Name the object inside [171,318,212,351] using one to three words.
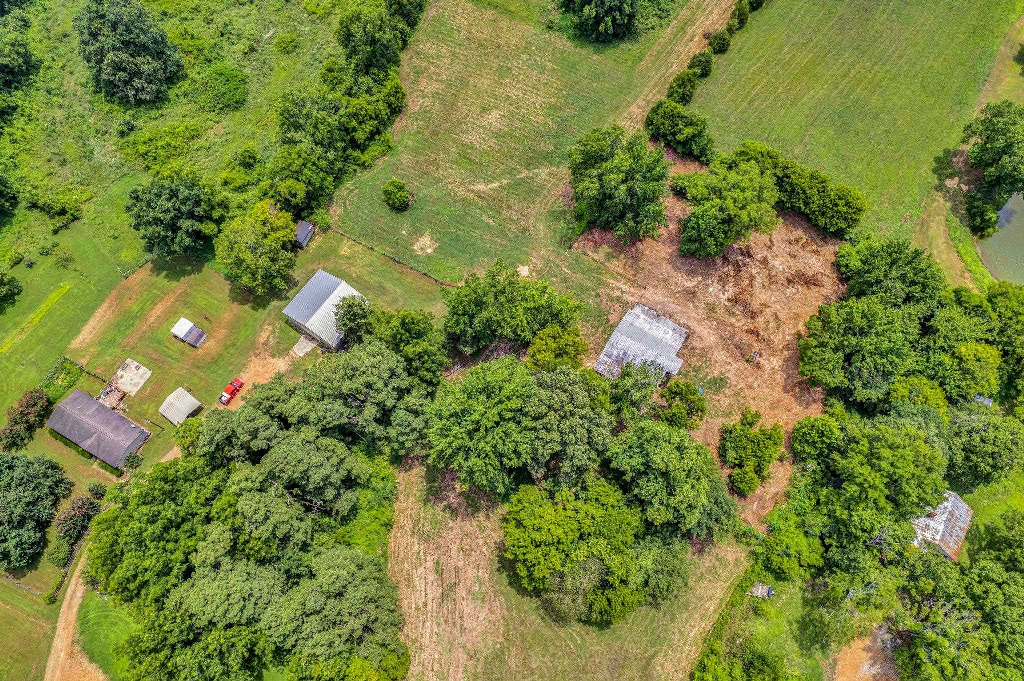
shed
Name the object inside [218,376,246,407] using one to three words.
truck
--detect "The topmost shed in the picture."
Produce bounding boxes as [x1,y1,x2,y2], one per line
[288,218,313,248]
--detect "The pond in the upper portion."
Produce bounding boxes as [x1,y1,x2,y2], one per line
[975,194,1024,292]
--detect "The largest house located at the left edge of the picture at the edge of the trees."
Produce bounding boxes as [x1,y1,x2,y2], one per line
[48,388,154,469]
